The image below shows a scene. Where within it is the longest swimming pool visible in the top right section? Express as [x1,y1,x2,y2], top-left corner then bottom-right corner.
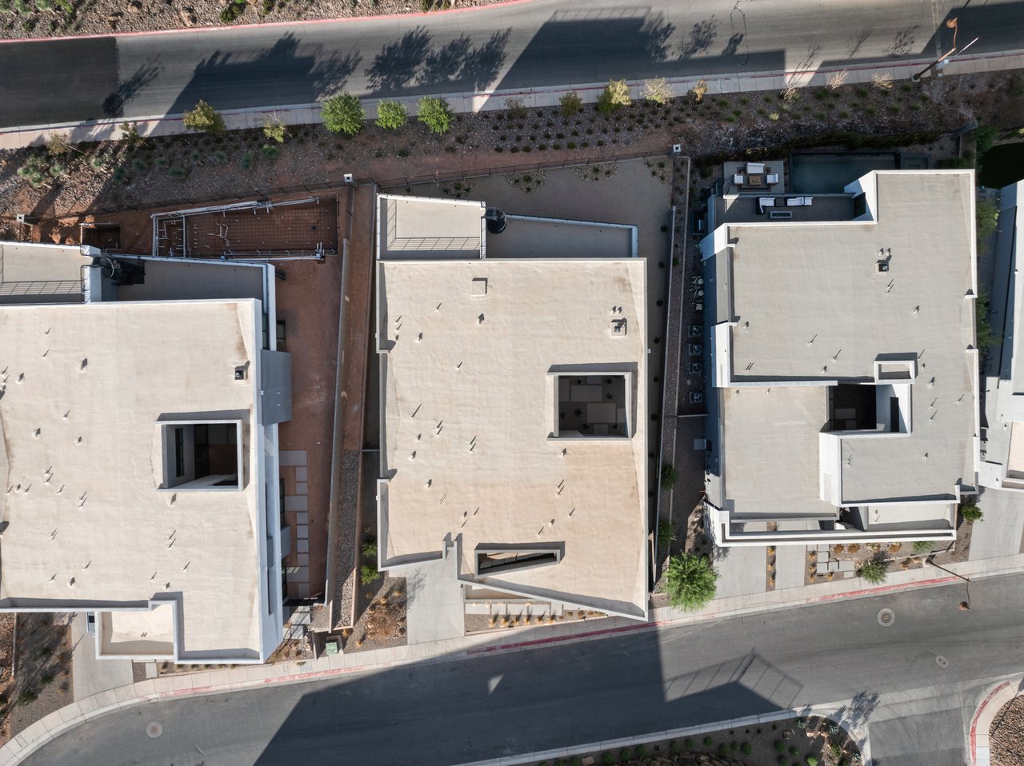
[788,150,900,193]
